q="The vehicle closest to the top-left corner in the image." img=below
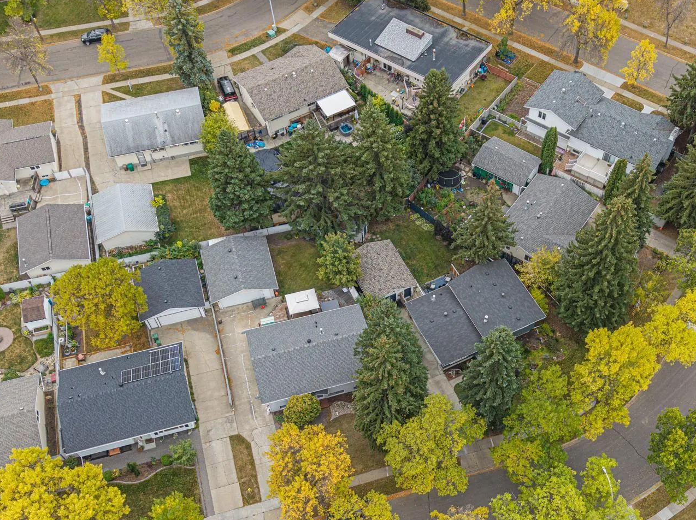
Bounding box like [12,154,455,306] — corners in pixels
[79,23,115,46]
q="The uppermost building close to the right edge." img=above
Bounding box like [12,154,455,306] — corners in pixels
[523,70,683,186]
